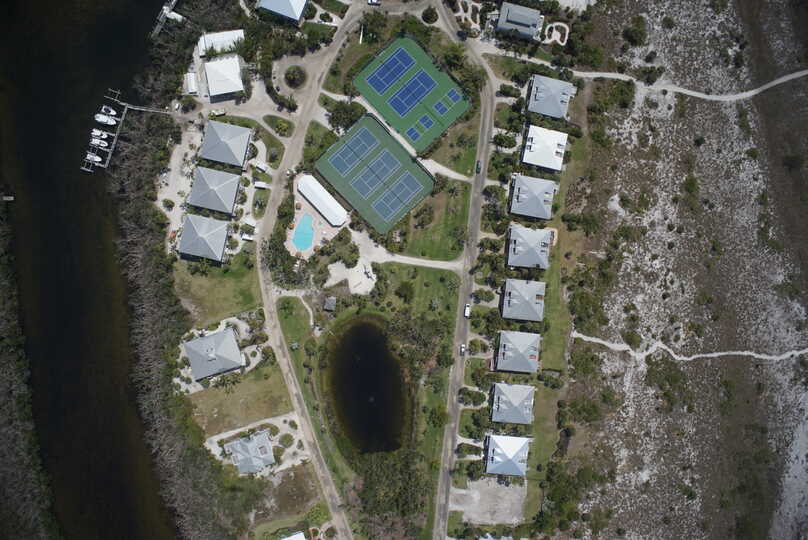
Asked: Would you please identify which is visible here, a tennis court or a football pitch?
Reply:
tennis court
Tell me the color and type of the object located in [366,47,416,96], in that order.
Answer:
blue tennis court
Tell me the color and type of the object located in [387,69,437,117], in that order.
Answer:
blue tennis court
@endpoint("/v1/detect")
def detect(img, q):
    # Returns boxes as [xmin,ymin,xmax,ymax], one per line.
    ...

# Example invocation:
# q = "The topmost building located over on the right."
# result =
[496,2,541,40]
